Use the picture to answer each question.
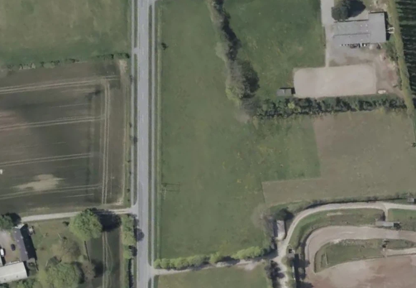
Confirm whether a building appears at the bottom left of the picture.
Yes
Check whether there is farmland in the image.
Yes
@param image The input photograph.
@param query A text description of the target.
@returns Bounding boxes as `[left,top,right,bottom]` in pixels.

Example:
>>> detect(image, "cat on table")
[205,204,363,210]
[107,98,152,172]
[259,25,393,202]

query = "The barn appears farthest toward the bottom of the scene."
[0,262,27,283]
